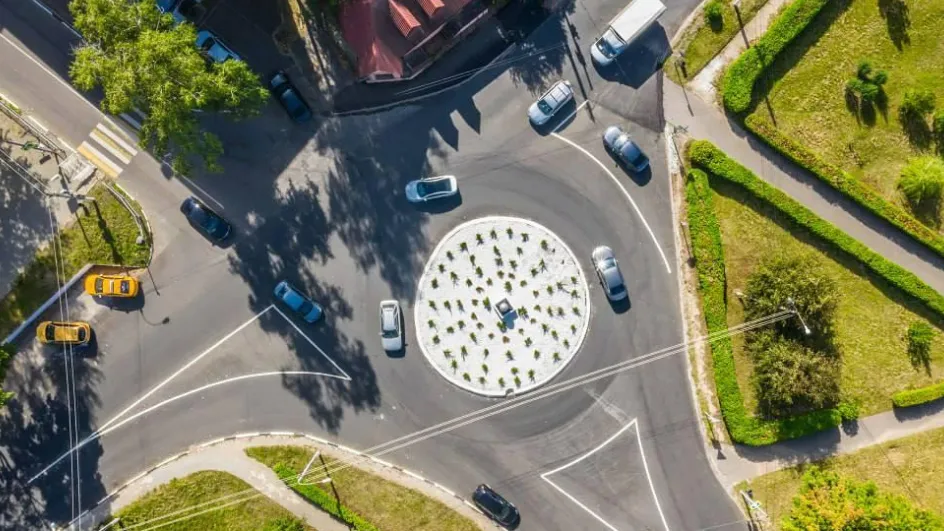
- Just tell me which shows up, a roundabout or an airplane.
roundabout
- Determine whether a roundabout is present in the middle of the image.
Yes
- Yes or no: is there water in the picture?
No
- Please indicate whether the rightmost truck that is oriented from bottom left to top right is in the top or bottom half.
top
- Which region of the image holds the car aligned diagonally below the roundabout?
bottom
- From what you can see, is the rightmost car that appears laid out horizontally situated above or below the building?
below it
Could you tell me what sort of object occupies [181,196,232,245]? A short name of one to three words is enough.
car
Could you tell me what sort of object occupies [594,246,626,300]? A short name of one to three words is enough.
car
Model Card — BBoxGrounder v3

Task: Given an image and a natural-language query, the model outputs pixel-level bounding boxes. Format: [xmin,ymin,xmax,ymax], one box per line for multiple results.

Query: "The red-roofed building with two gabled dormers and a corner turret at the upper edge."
[348,0,498,92]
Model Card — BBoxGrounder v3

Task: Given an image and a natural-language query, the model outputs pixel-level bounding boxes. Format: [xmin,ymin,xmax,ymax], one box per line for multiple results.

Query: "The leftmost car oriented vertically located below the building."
[379,301,403,350]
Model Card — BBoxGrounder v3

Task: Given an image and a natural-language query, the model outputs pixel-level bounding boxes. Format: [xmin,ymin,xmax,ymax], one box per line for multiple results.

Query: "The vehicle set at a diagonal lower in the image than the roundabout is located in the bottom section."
[471,482,521,531]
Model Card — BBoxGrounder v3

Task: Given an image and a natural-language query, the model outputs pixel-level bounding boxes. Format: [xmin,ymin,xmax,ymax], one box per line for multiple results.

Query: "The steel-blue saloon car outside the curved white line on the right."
[603,124,650,173]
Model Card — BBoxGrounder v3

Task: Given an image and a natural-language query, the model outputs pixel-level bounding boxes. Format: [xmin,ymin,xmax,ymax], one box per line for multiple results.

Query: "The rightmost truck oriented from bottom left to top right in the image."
[594,0,673,63]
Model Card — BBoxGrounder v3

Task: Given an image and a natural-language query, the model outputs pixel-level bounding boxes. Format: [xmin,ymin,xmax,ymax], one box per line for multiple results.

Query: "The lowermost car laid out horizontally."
[38,320,92,346]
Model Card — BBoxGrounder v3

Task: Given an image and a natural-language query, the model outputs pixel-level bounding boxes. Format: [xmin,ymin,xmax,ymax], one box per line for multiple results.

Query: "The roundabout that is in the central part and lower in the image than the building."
[381,181,624,432]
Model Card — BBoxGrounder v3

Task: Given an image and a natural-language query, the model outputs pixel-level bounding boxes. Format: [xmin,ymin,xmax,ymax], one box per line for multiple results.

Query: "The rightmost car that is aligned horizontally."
[405,174,459,202]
